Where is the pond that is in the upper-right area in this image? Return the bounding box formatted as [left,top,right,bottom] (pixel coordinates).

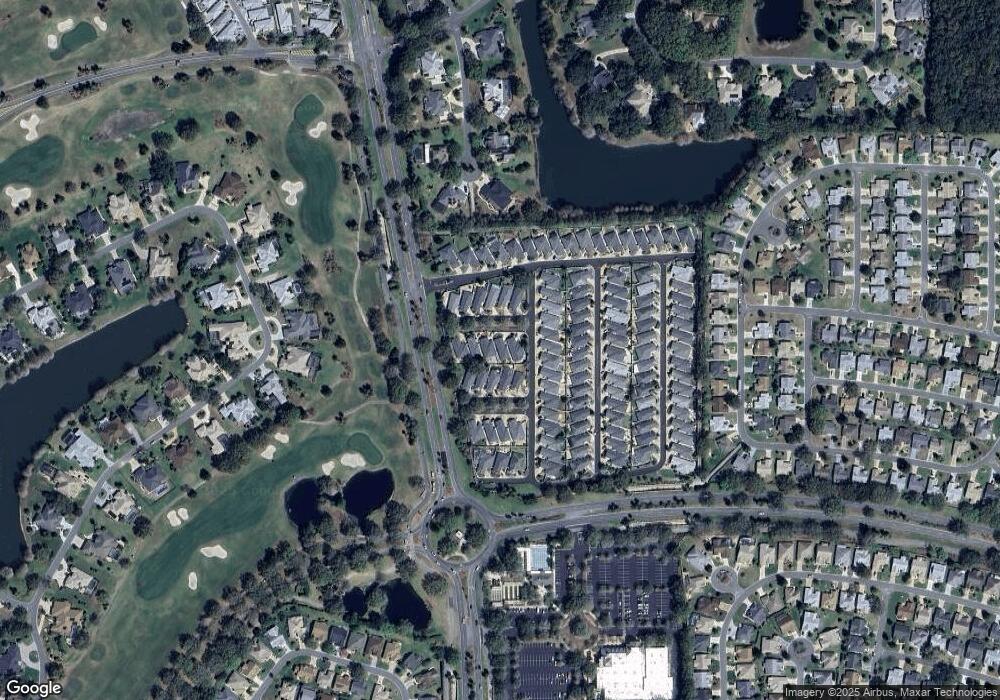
[754,0,805,41]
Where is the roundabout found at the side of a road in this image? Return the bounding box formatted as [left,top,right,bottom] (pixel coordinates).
[418,494,497,574]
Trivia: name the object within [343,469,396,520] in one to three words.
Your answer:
pond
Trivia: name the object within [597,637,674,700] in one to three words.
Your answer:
building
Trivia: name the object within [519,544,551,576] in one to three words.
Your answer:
swimming pool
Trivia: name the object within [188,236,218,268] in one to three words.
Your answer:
house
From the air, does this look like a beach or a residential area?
residential area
